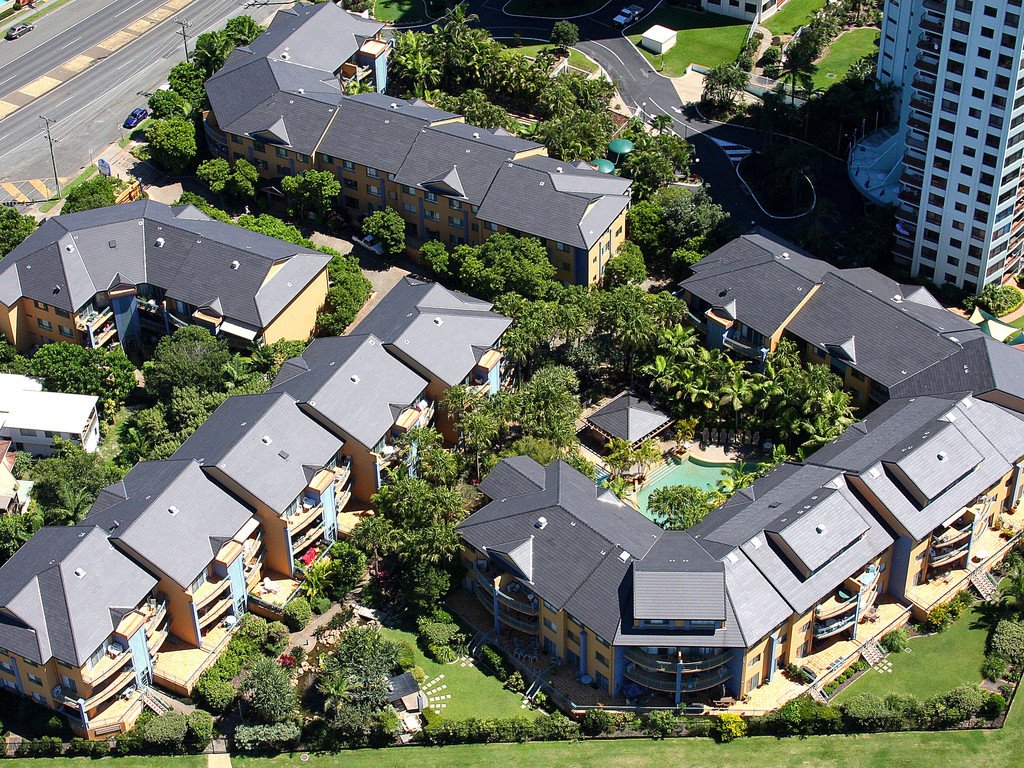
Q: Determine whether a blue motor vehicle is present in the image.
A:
Yes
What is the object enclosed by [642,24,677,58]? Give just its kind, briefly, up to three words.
shed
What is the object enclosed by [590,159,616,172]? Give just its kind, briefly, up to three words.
umbrella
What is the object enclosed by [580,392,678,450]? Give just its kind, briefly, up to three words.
gazebo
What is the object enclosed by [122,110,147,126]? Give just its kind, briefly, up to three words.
car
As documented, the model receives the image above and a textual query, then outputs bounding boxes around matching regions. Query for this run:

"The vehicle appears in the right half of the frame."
[614,6,641,22]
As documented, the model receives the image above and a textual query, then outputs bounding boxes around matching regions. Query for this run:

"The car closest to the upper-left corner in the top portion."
[6,24,31,38]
